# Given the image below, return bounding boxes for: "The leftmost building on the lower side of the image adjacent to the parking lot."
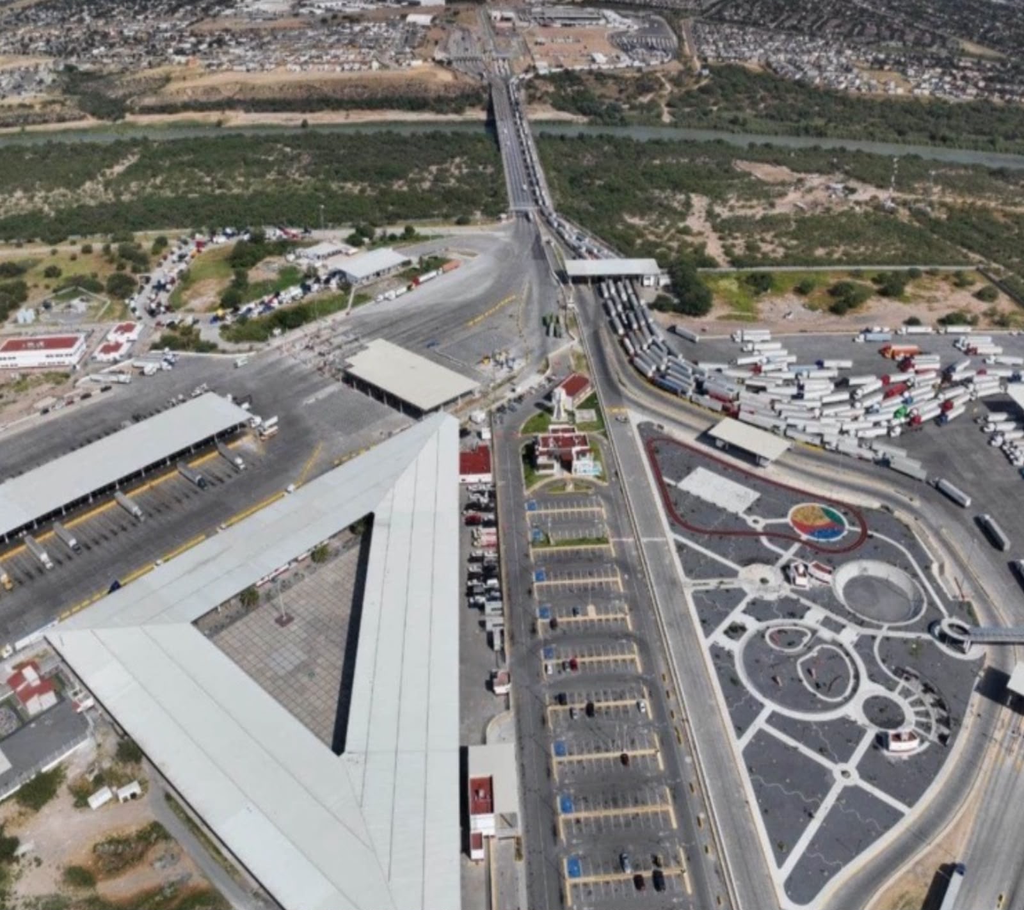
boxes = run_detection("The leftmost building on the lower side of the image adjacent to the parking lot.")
[48,413,460,910]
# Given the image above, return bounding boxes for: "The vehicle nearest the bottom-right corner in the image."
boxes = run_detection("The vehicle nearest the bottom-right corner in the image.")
[937,854,966,910]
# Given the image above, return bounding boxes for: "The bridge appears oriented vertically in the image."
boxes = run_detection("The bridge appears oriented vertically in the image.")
[490,82,561,226]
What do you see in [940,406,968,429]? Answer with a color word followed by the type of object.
white truck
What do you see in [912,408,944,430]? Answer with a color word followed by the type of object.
white truck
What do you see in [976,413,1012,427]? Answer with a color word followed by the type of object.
white vehicle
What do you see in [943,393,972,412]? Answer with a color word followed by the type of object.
white vehicle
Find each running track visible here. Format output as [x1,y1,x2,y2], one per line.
[648,436,870,553]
